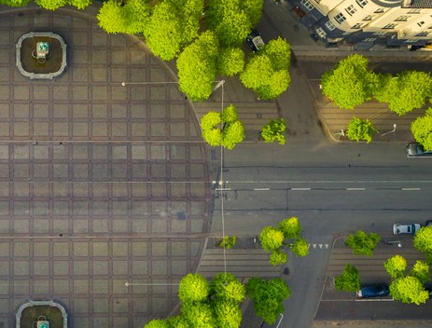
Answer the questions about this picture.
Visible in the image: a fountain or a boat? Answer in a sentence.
I can see a fountain in this picture.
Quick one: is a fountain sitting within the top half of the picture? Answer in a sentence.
Yes, a fountain can be seen within the top half of the picture.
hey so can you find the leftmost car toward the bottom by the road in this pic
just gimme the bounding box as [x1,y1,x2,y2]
[355,282,390,299]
